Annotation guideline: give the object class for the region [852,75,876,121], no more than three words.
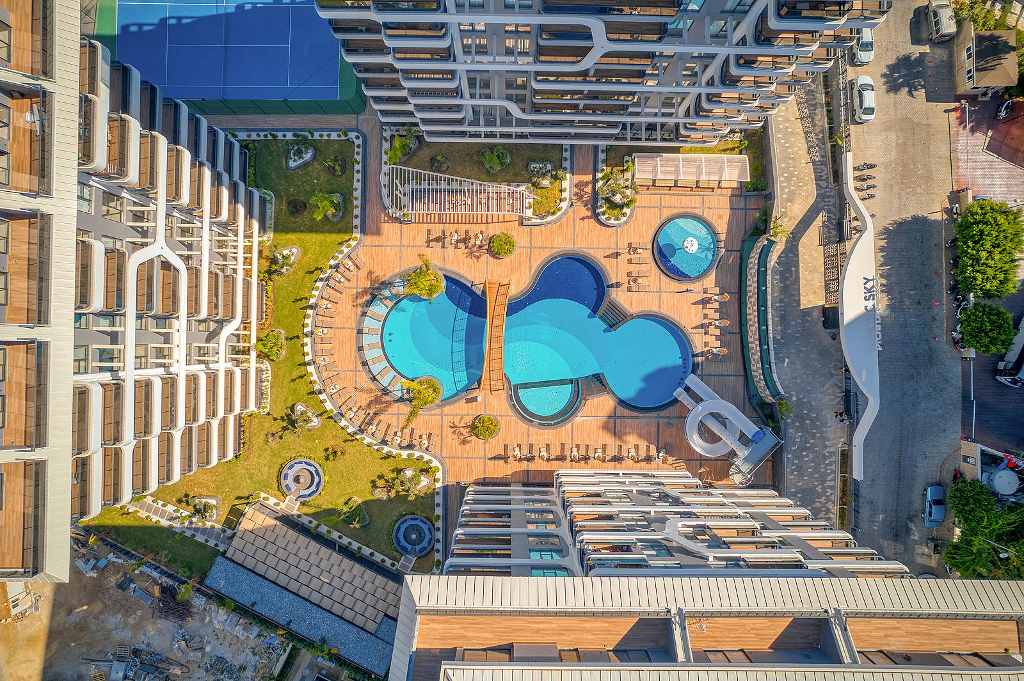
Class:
car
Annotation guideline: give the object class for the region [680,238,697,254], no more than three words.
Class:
fountain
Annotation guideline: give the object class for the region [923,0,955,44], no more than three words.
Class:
vehicle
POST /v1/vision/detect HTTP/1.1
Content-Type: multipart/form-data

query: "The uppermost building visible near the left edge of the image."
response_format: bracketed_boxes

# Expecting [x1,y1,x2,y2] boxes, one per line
[0,0,256,584]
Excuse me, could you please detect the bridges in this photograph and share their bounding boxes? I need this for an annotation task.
[482,281,509,393]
